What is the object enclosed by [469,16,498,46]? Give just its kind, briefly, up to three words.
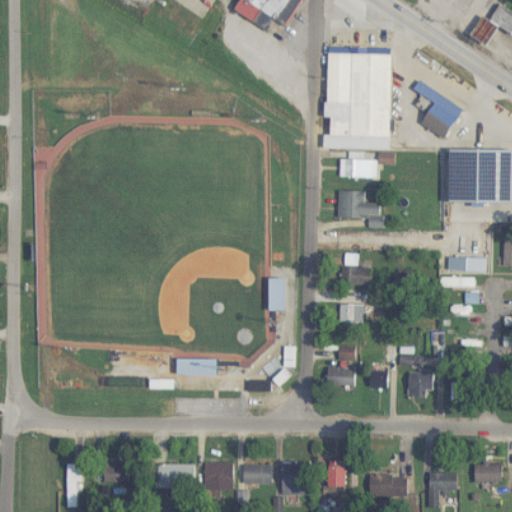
shed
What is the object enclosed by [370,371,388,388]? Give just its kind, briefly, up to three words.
house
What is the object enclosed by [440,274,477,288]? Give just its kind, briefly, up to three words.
house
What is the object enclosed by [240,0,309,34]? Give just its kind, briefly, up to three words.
building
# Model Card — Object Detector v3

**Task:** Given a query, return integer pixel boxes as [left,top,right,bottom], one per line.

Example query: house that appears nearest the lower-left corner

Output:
[66,464,86,508]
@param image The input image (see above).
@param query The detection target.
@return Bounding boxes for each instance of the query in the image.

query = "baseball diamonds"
[34,116,272,367]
